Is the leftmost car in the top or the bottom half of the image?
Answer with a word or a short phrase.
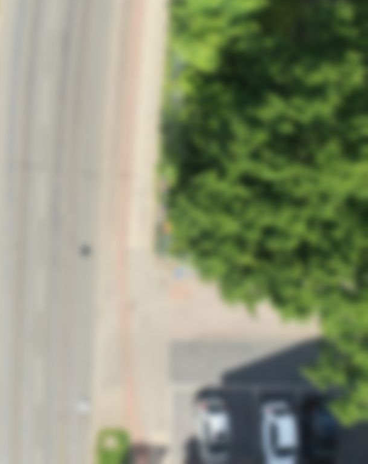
bottom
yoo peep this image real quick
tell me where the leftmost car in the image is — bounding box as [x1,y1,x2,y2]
[191,392,230,464]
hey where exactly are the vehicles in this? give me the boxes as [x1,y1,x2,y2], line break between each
[256,393,300,464]
[308,397,351,464]
[191,392,230,464]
